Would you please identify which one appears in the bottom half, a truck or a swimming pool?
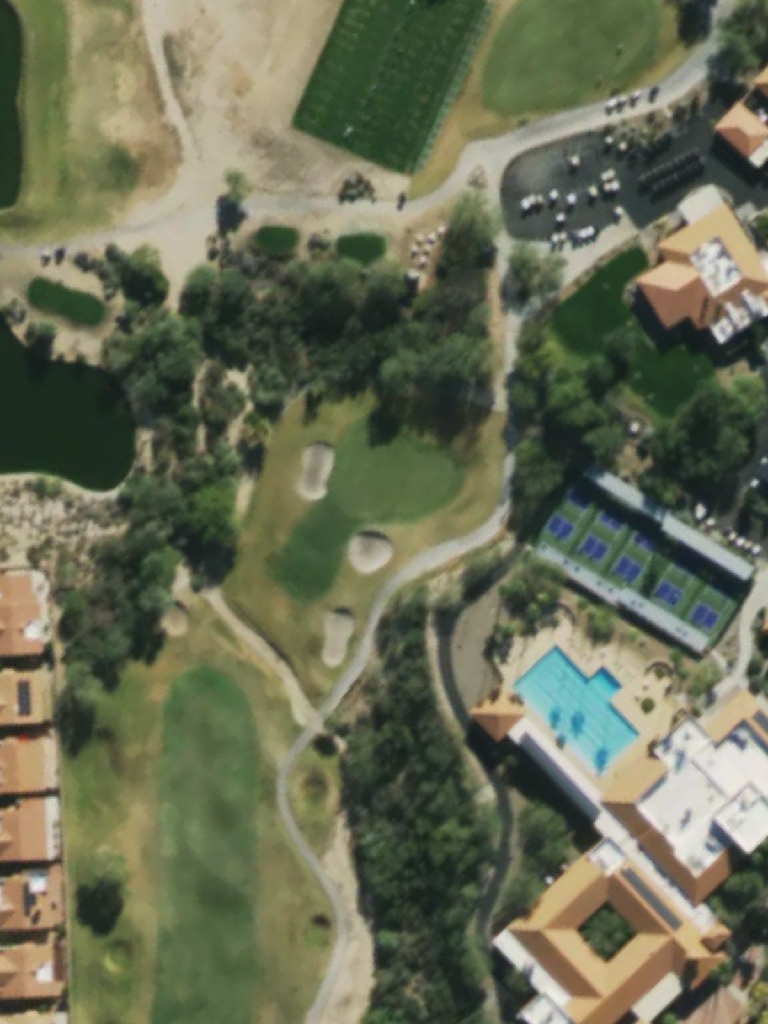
swimming pool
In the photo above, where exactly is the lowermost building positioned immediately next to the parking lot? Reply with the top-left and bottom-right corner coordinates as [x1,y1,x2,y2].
[638,183,768,344]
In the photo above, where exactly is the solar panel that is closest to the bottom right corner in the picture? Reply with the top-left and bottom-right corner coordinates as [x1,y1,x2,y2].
[621,869,684,932]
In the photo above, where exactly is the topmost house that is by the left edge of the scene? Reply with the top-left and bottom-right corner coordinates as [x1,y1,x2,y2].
[0,570,51,656]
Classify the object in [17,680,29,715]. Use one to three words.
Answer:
solar panel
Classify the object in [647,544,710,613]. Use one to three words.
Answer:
sports court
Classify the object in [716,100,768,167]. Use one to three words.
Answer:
building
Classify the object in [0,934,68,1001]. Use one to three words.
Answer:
house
